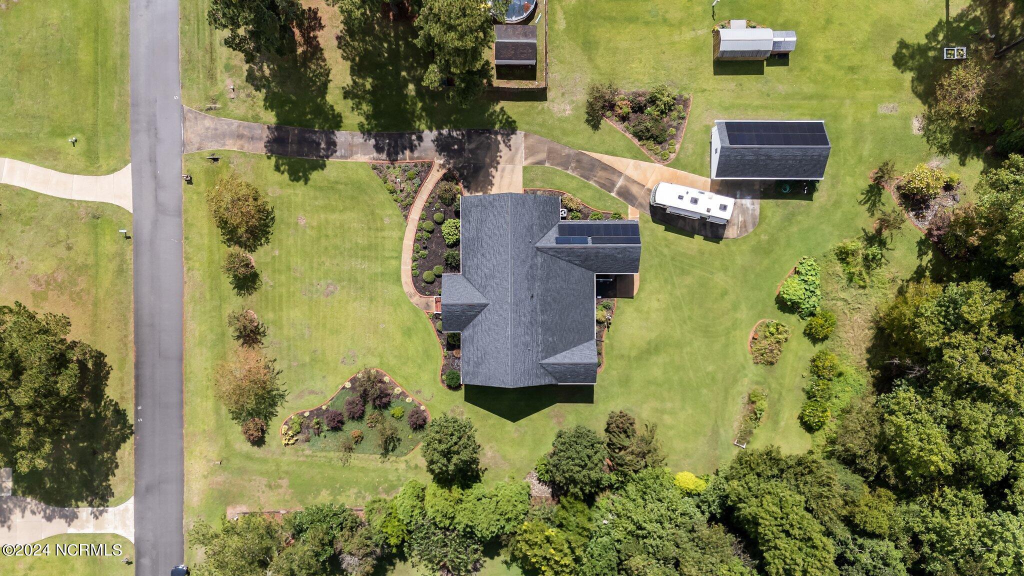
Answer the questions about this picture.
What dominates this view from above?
grass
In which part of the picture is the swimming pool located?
top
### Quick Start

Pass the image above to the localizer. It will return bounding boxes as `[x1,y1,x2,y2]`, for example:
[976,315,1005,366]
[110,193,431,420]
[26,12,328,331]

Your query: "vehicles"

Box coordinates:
[646,179,735,225]
[172,567,190,576]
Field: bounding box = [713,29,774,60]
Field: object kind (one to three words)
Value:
barn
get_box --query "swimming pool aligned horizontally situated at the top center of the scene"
[490,0,537,22]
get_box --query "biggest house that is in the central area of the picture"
[434,193,641,388]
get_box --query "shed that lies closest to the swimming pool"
[495,24,537,67]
